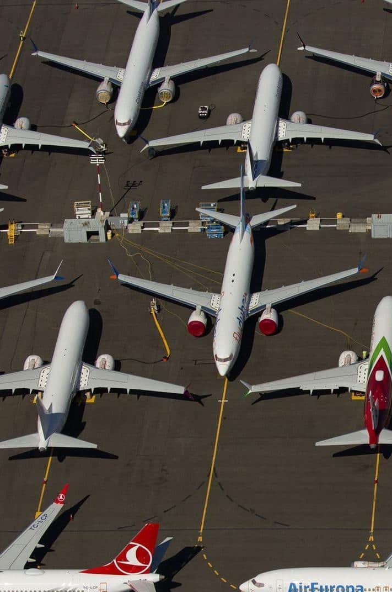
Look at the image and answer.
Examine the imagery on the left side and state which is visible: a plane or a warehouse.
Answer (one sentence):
It is a plane that can be seen on the left side.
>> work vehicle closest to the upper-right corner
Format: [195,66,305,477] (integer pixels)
[198,105,210,119]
